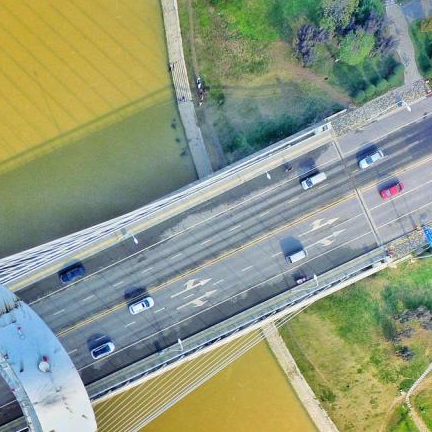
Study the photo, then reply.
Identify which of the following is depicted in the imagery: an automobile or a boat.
automobile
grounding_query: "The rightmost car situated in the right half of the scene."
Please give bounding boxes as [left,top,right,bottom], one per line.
[377,181,404,199]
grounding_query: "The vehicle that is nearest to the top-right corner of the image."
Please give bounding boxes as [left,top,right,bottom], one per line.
[357,150,385,169]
